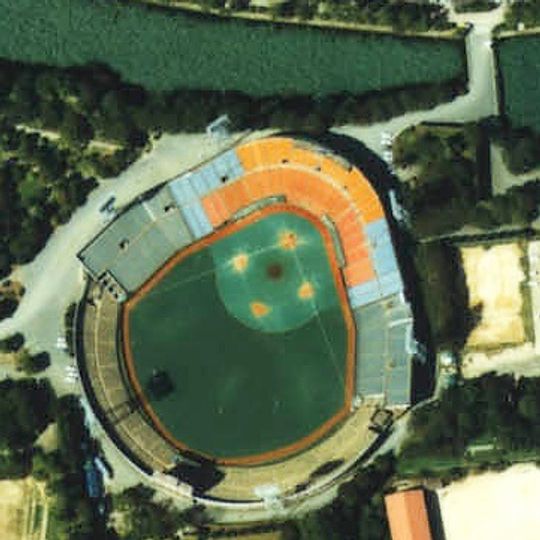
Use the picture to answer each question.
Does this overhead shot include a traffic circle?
No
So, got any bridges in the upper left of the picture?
No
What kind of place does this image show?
sports ground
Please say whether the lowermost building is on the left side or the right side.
right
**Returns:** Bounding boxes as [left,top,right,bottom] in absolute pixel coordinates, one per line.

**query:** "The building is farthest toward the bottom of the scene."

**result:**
[385,489,432,540]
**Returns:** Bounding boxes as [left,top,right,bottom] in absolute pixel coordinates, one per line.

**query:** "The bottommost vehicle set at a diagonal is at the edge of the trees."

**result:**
[94,459,109,478]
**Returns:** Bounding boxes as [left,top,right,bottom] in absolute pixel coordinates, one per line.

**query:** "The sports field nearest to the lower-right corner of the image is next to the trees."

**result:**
[433,465,540,540]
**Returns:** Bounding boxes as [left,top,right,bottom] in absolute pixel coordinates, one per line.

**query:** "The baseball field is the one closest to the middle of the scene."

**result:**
[120,204,355,466]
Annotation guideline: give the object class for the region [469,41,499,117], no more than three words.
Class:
bridge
